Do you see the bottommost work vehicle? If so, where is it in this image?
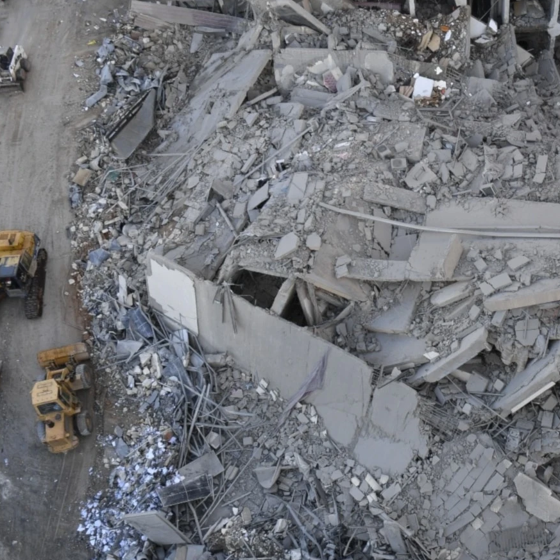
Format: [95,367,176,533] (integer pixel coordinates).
[28,331,96,461]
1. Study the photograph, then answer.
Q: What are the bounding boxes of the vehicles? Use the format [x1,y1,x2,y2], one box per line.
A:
[0,47,27,100]
[0,227,53,331]
[28,331,96,461]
